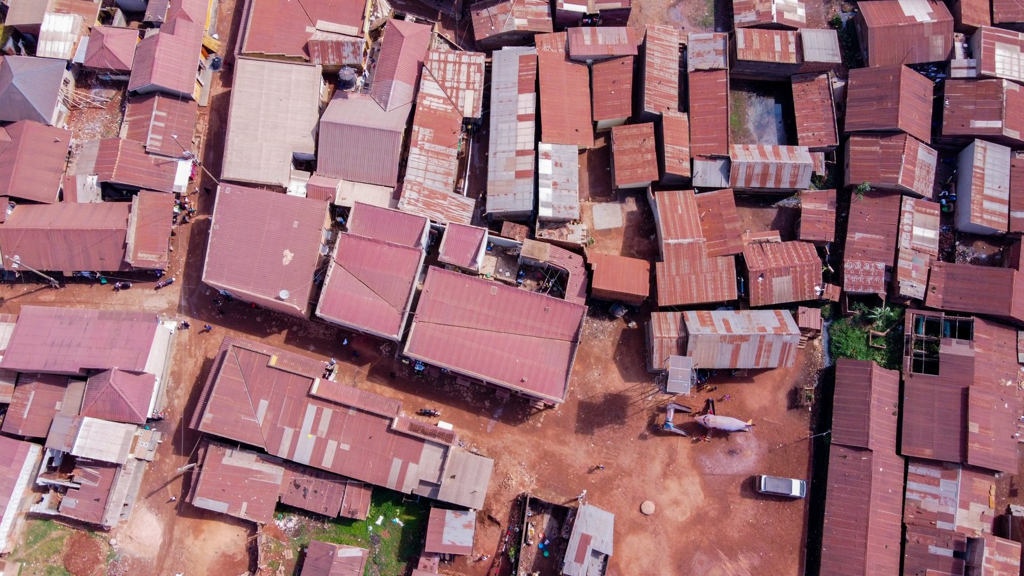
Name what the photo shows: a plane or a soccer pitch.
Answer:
plane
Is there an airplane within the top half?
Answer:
No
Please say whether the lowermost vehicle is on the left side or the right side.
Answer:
right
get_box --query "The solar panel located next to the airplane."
[667,355,692,394]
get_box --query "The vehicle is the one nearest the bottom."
[752,474,805,501]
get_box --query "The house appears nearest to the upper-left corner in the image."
[5,0,47,43]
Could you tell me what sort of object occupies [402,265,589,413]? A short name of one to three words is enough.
building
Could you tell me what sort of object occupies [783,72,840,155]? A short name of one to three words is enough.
house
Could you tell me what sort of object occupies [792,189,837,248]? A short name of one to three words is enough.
shed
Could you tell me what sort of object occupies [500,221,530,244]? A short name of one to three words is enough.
shed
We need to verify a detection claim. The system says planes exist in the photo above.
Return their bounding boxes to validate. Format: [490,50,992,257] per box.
[692,396,755,441]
